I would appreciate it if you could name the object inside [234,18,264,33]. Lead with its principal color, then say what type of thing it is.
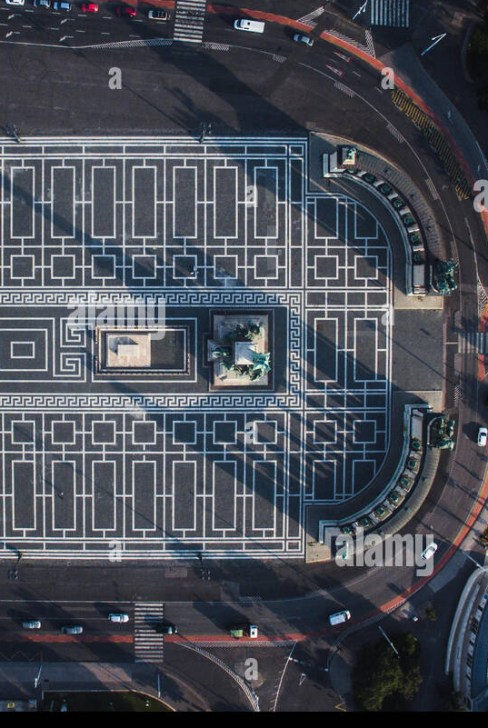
white vehicle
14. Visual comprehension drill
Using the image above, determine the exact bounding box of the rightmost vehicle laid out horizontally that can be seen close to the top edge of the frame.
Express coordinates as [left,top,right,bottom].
[293,35,315,47]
